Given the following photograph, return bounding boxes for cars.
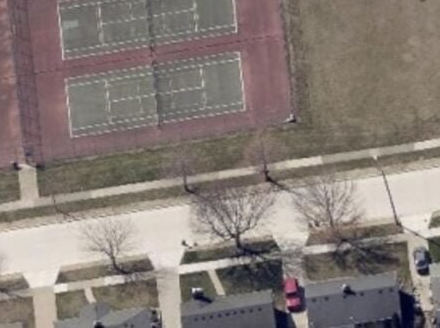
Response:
[412,246,430,276]
[284,278,304,310]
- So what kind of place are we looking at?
sports ground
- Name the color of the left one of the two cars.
red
